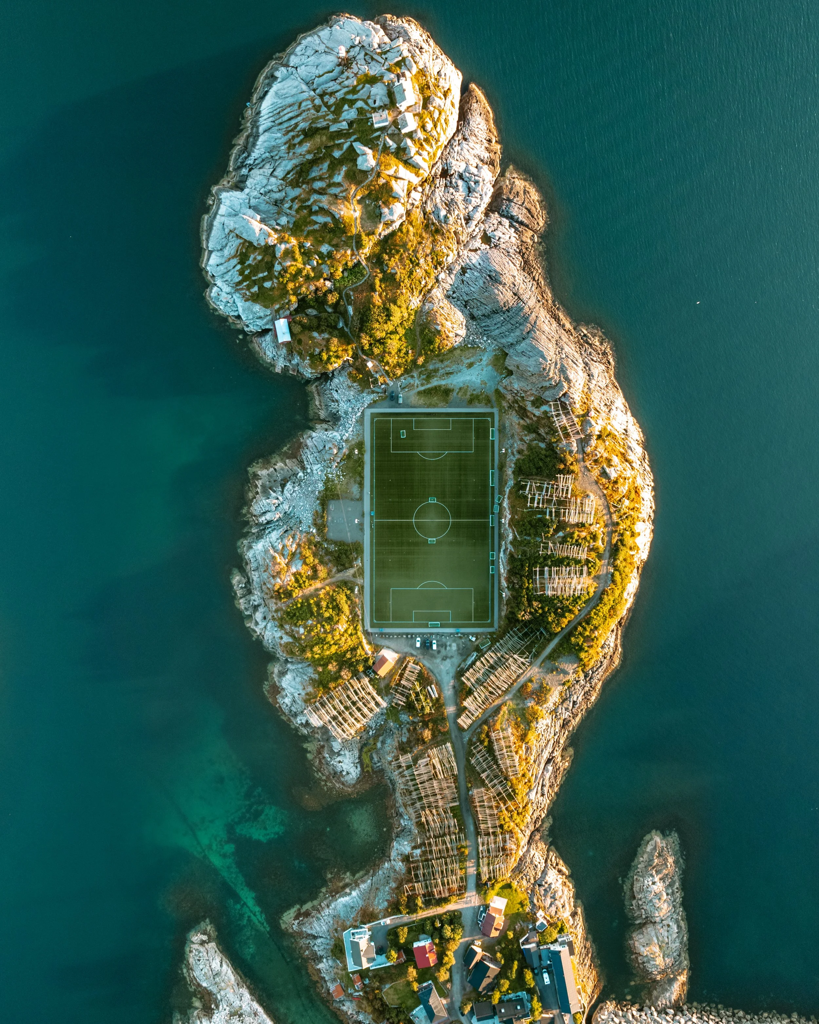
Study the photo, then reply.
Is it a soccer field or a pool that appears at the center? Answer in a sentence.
Looking at the center, you will find a soccer field.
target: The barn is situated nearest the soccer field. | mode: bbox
[371,648,398,678]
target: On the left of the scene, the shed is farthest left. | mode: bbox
[274,318,292,345]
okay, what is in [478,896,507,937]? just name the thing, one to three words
house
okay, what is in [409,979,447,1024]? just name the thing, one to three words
house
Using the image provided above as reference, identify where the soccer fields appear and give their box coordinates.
[370,412,494,628]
